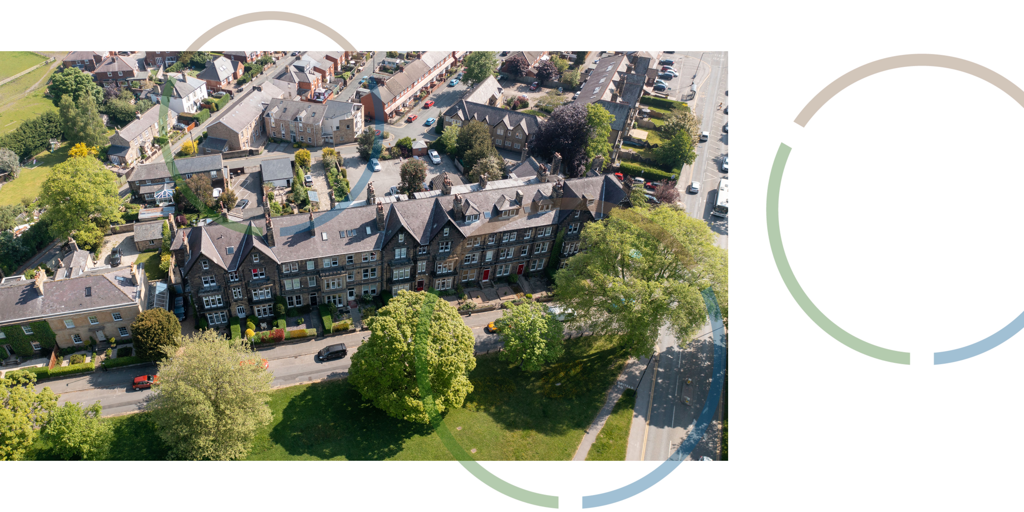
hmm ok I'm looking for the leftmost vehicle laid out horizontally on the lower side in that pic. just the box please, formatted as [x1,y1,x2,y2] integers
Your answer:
[127,372,160,390]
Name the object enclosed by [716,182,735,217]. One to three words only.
vehicle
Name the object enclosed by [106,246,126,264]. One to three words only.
car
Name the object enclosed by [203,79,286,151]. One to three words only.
building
